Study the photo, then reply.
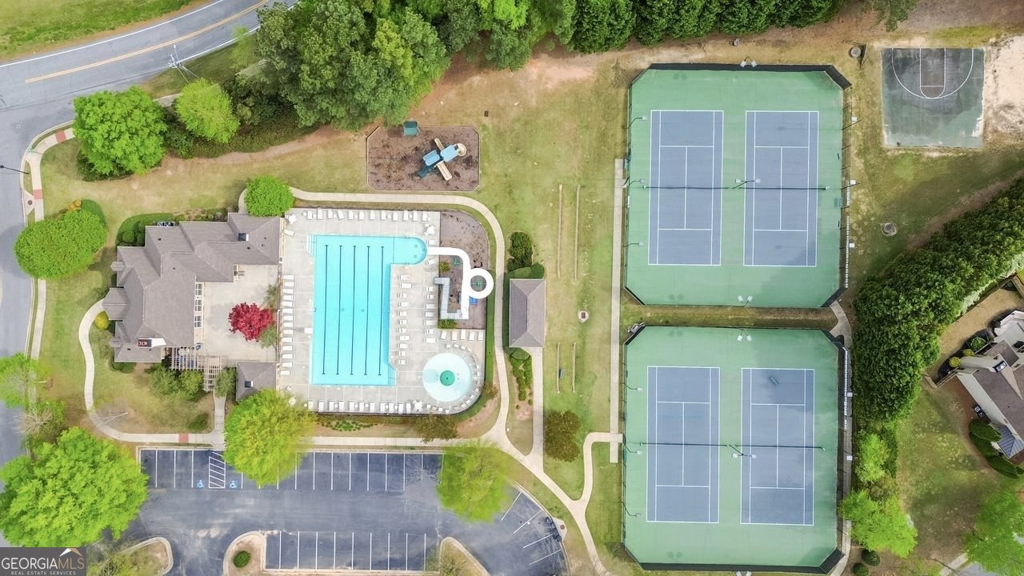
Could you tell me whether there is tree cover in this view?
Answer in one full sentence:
Yes, there's tree cover in this view.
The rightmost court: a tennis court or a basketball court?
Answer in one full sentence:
I'd say the rightmost court is a basketball court.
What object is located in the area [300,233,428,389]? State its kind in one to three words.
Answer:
swimming pool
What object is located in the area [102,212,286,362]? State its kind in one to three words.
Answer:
building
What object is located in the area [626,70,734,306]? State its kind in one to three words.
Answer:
tennis court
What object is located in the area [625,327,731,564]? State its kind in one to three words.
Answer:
tennis court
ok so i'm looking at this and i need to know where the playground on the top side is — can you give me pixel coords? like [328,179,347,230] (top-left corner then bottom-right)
[417,137,467,182]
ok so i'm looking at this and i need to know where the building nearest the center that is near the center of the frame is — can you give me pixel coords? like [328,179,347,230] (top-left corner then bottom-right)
[508,279,546,348]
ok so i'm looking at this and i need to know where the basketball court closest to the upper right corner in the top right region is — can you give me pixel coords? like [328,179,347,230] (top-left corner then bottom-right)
[882,48,985,148]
